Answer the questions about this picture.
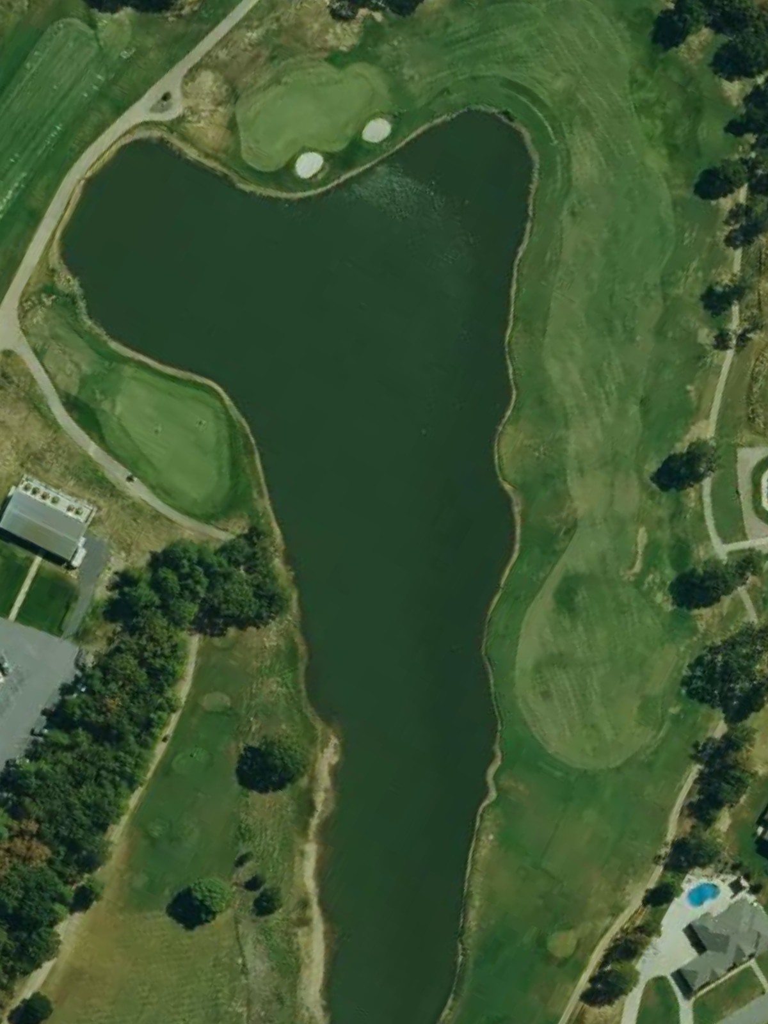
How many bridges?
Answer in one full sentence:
The photo contains no bridges.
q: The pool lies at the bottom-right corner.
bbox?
[686,881,721,909]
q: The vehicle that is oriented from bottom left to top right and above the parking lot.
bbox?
[70,546,86,566]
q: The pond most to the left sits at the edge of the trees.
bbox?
[61,108,533,1024]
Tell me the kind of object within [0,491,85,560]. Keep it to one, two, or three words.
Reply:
building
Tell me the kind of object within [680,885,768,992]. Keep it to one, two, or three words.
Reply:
house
